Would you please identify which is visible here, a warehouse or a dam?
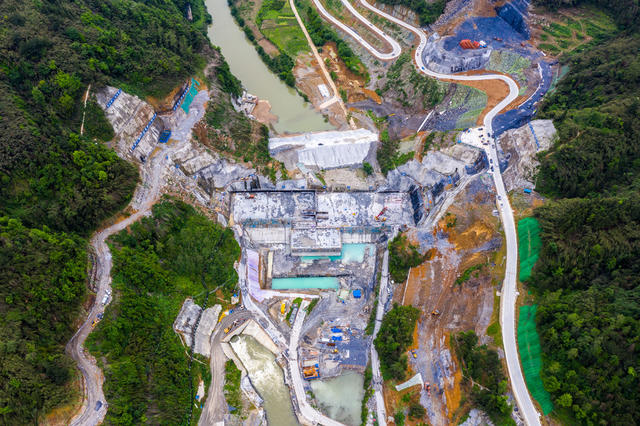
dam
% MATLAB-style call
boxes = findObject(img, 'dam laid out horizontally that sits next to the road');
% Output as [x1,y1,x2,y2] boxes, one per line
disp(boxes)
[232,191,411,254]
